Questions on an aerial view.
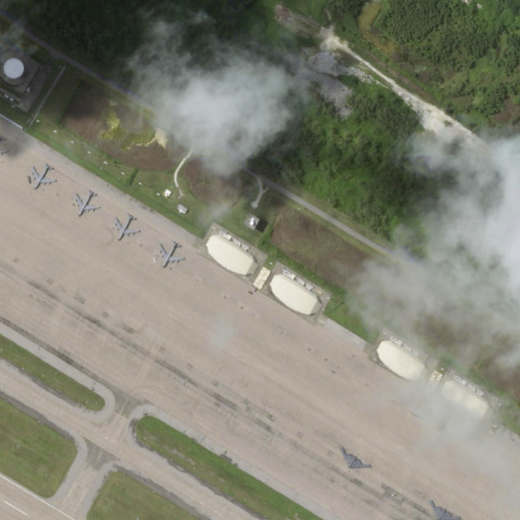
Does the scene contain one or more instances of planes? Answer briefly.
Yes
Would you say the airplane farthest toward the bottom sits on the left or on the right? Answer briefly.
right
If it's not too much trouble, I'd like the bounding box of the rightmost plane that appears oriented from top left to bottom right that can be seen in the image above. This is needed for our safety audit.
[431,498,462,520]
